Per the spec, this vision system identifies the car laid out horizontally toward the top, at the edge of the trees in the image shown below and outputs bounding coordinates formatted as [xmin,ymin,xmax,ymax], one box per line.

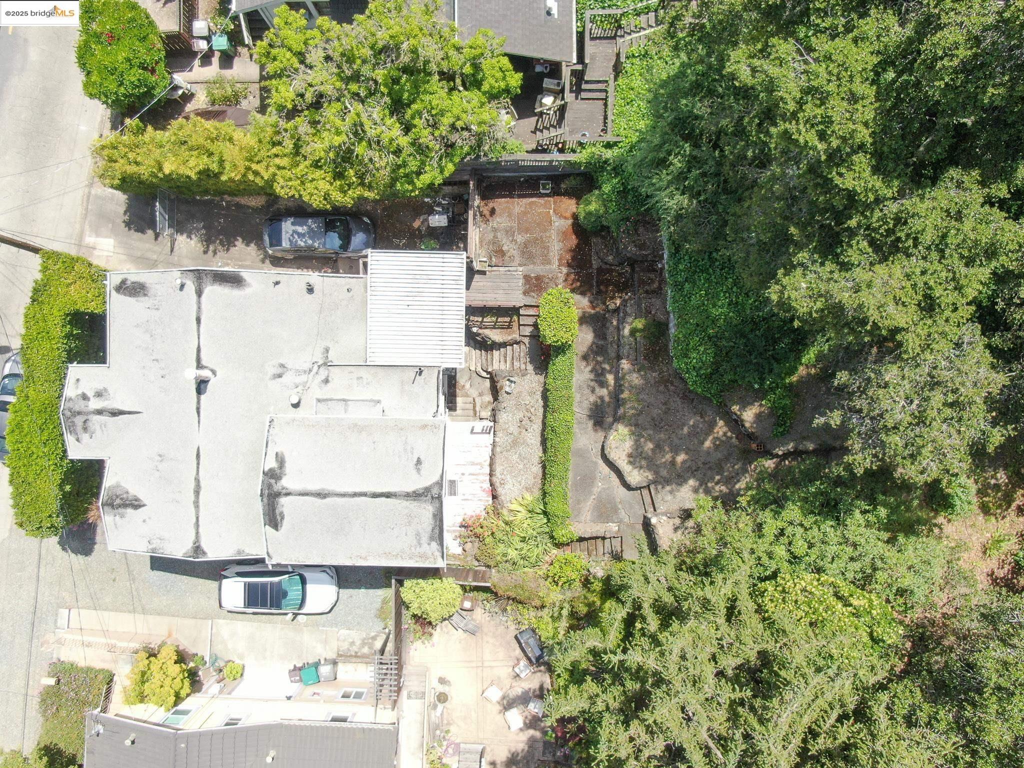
[262,211,377,266]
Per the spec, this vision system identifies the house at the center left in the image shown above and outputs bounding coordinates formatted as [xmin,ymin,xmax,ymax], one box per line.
[59,250,468,573]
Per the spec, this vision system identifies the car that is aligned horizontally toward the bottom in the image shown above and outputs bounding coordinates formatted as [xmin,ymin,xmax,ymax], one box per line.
[219,560,340,621]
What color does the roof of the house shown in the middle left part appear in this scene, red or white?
white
